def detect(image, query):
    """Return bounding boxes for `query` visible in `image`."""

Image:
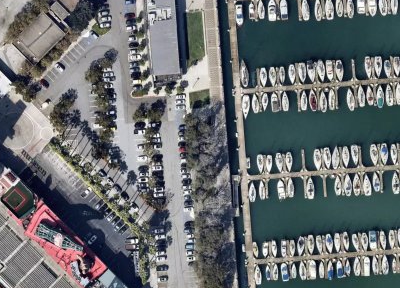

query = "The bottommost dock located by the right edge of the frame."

[253,226,400,285]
